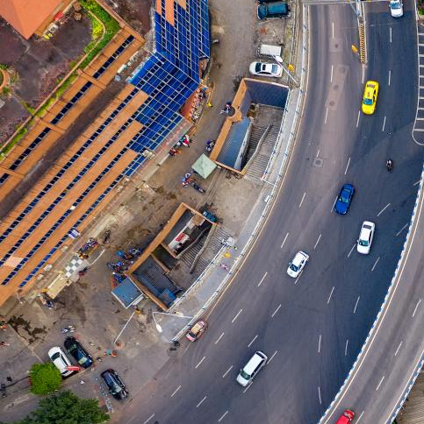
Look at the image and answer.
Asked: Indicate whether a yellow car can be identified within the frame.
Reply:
Yes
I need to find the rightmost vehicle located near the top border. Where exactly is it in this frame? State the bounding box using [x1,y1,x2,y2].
[389,0,406,21]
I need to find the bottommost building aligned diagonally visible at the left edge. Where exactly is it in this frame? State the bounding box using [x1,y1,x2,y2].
[0,85,147,320]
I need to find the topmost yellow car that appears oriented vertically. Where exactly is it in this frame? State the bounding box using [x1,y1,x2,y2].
[362,80,379,116]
